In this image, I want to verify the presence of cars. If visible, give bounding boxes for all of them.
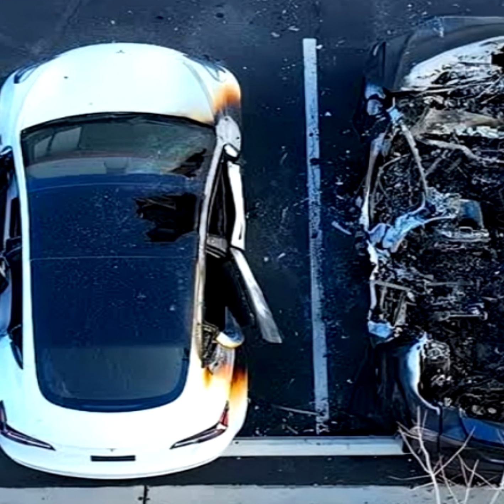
[360,12,504,474]
[0,42,285,485]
